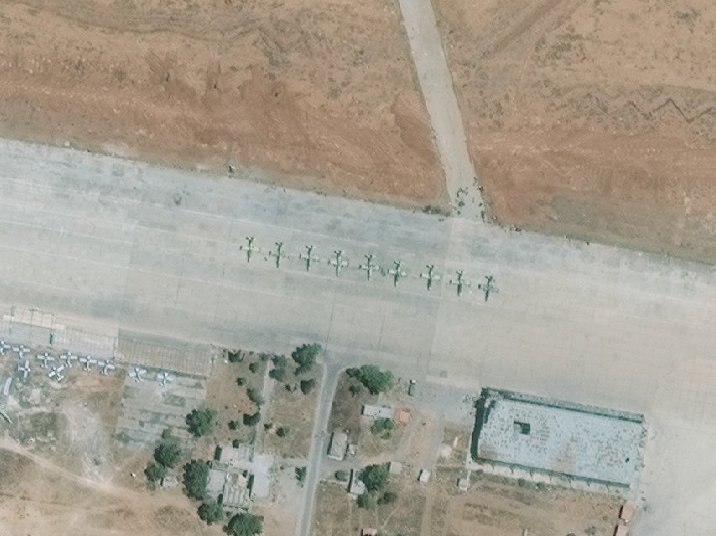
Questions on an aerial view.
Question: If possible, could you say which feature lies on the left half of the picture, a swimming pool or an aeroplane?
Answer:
aeroplane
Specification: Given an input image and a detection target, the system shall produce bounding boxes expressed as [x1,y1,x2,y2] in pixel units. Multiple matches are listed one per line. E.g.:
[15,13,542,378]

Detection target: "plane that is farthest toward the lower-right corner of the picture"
[478,275,498,299]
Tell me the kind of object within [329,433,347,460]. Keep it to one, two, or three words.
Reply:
house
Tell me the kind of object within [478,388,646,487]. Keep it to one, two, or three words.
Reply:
hangar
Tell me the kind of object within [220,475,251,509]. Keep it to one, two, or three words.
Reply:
building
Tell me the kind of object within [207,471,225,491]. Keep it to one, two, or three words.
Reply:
house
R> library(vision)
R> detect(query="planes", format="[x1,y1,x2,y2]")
[328,249,348,273]
[359,254,379,277]
[13,342,29,358]
[268,241,288,265]
[420,264,441,288]
[450,270,470,294]
[48,366,64,381]
[98,358,115,373]
[37,351,54,366]
[299,245,319,269]
[156,370,173,385]
[17,361,33,378]
[60,350,78,365]
[129,367,145,382]
[0,339,10,354]
[388,259,408,284]
[478,275,498,299]
[80,354,96,369]
[240,236,259,260]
